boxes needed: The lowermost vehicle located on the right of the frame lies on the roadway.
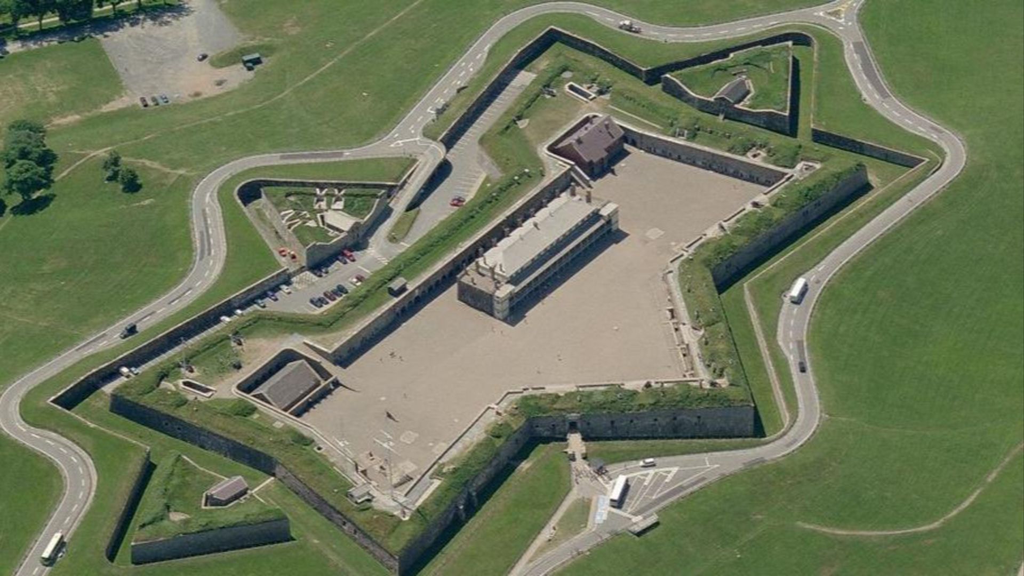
[611,474,630,508]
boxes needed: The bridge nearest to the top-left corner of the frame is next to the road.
[374,154,447,235]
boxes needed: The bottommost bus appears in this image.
[43,530,67,566]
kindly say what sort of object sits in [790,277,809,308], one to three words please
vehicle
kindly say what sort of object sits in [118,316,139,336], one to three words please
vehicle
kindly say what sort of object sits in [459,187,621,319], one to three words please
building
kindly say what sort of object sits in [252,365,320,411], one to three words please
building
